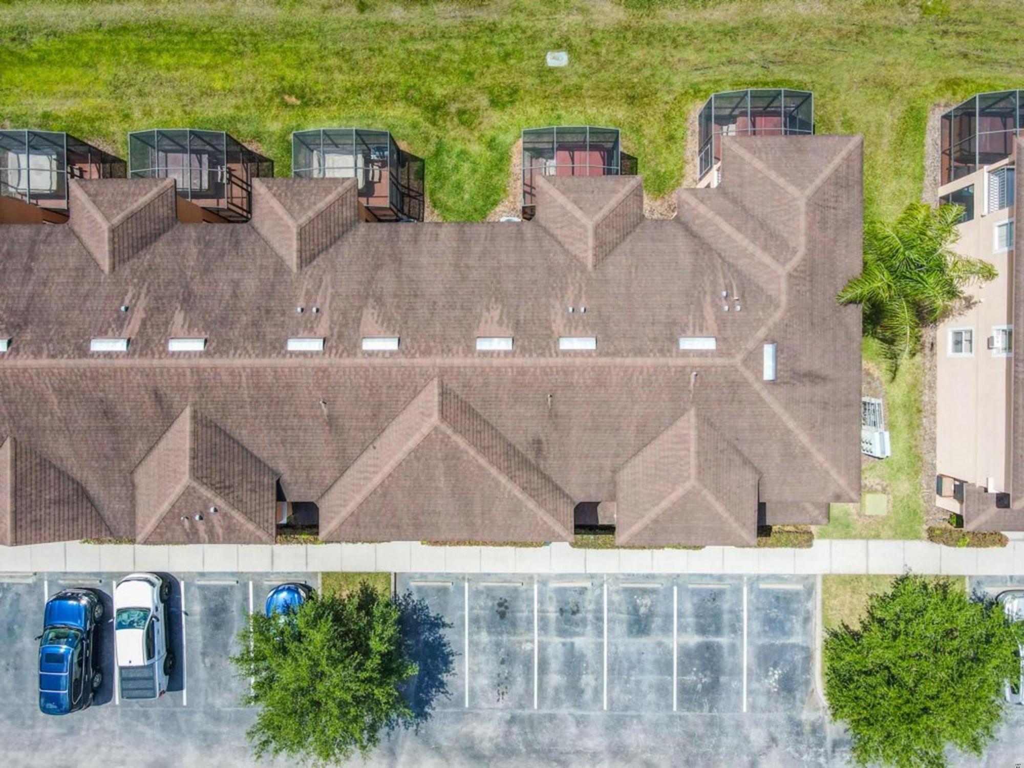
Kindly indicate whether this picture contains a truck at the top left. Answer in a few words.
No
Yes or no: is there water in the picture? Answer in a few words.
No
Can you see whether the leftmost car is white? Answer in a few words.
No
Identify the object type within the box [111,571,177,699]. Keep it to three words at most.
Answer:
truck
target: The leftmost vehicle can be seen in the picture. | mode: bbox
[37,588,104,714]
